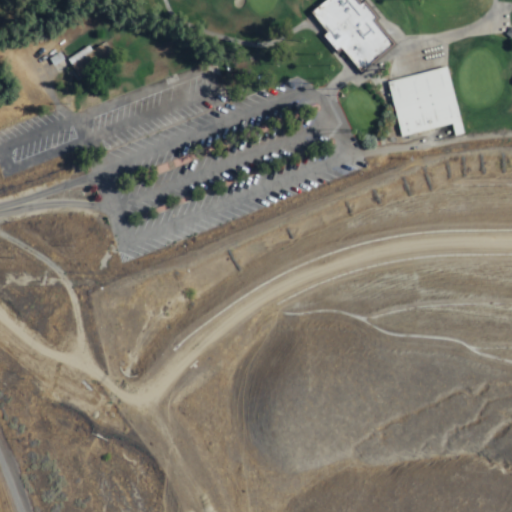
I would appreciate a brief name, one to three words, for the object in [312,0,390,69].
building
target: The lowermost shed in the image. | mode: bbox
[389,67,465,136]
